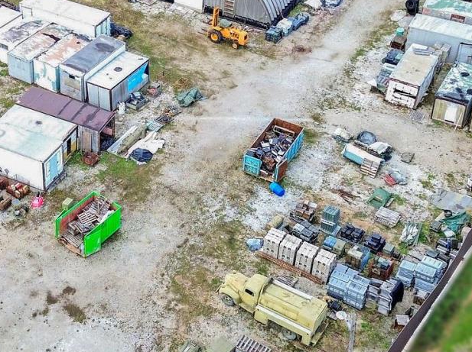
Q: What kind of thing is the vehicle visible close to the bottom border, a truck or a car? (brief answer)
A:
truck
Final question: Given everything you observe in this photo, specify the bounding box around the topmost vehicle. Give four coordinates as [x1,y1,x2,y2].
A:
[198,5,252,48]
